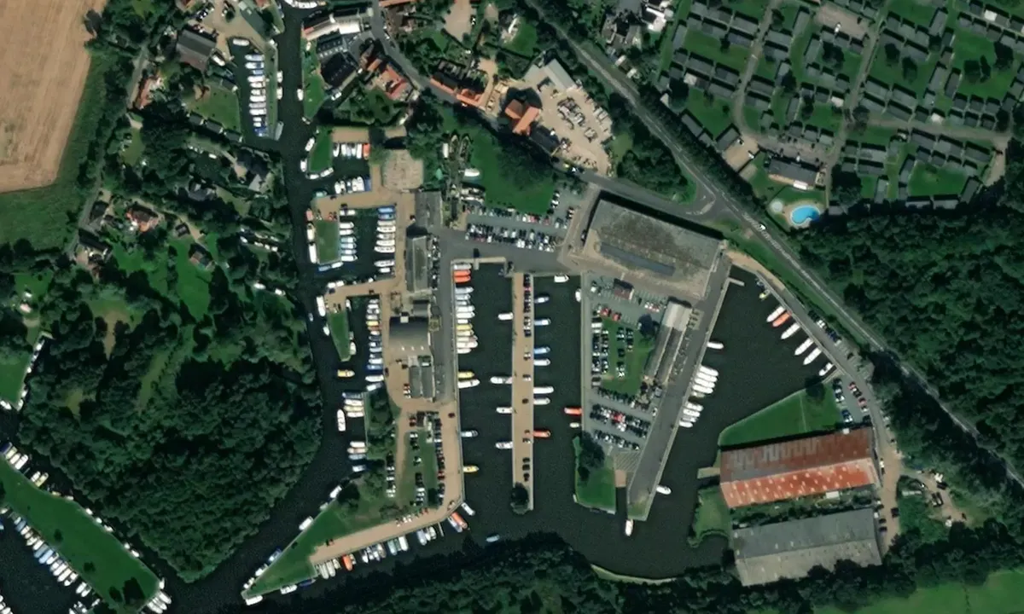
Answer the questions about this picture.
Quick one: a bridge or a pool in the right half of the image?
pool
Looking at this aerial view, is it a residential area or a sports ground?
residential area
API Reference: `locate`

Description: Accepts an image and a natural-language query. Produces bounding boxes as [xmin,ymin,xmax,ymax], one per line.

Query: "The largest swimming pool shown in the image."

[784,200,824,232]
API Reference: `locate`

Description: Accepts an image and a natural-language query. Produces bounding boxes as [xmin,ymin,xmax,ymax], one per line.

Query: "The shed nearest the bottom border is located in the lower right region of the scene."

[731,508,882,587]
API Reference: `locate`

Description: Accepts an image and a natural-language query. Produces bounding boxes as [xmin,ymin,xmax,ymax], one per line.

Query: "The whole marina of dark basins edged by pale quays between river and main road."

[7,51,841,601]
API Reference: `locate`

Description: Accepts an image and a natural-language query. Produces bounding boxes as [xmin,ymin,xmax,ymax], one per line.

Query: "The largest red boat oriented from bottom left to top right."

[774,310,793,325]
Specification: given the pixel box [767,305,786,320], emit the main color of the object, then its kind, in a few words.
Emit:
white boat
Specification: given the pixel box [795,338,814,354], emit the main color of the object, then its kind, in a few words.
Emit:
white boat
